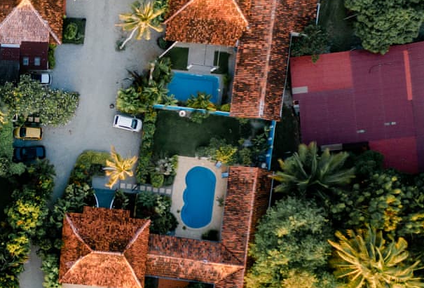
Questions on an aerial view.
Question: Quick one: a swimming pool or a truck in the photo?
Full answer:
Visible in the photo is a swimming pool.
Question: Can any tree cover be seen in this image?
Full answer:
Yes, the picture does contain tree cover.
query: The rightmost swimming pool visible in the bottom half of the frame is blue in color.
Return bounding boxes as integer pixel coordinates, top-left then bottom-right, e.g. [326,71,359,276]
[175,160,222,234]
